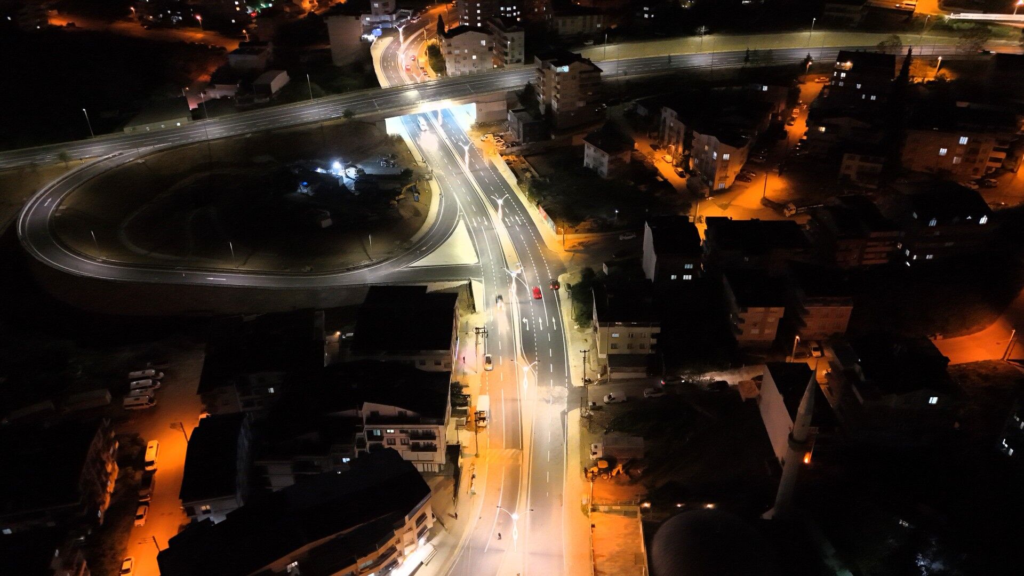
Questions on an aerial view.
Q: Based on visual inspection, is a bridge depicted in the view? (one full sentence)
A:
Yes, the image includes a bridge.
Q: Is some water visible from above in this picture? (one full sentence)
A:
No, there's no water in this view.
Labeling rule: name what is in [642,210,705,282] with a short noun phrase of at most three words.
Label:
house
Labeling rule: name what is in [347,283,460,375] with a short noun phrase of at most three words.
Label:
building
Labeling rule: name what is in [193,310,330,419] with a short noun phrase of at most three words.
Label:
building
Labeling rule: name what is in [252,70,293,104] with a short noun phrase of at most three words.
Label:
shed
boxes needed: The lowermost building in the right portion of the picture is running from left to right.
[642,508,808,576]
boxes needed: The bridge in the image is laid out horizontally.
[374,90,514,130]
